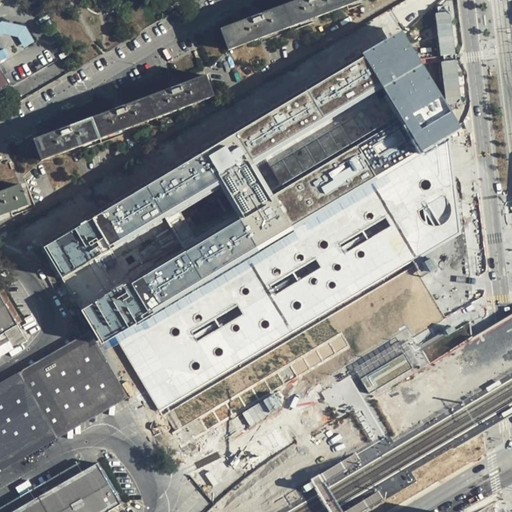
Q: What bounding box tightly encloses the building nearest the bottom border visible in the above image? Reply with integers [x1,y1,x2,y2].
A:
[0,462,118,512]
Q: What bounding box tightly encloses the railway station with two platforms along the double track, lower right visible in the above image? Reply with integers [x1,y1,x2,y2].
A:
[266,367,512,512]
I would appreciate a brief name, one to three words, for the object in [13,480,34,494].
vehicle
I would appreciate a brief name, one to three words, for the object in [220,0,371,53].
building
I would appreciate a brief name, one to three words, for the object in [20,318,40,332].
vehicle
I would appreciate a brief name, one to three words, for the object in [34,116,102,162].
building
